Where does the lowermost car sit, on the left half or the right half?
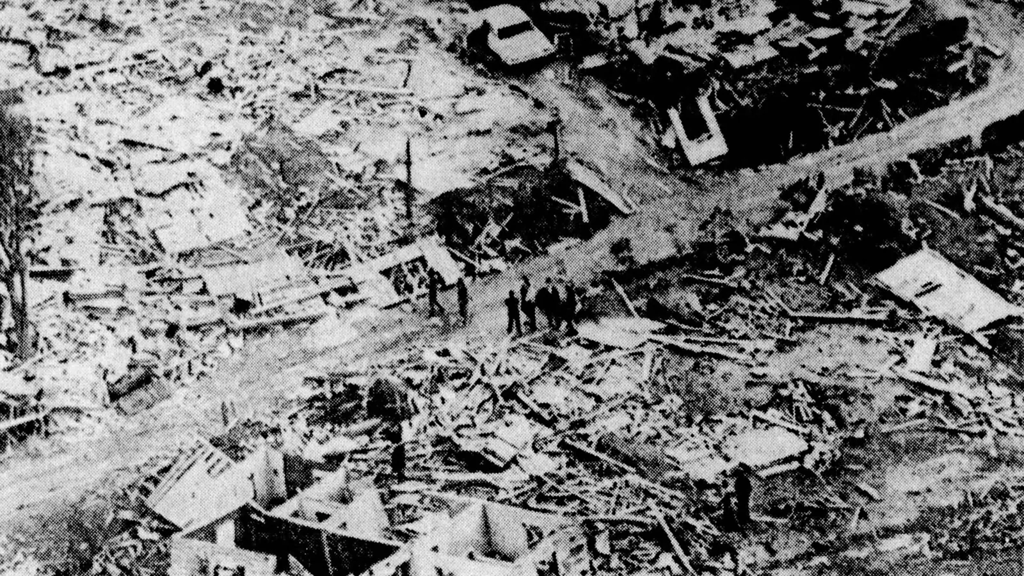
right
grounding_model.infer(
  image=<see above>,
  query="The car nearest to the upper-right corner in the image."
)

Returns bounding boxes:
[668,90,736,164]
